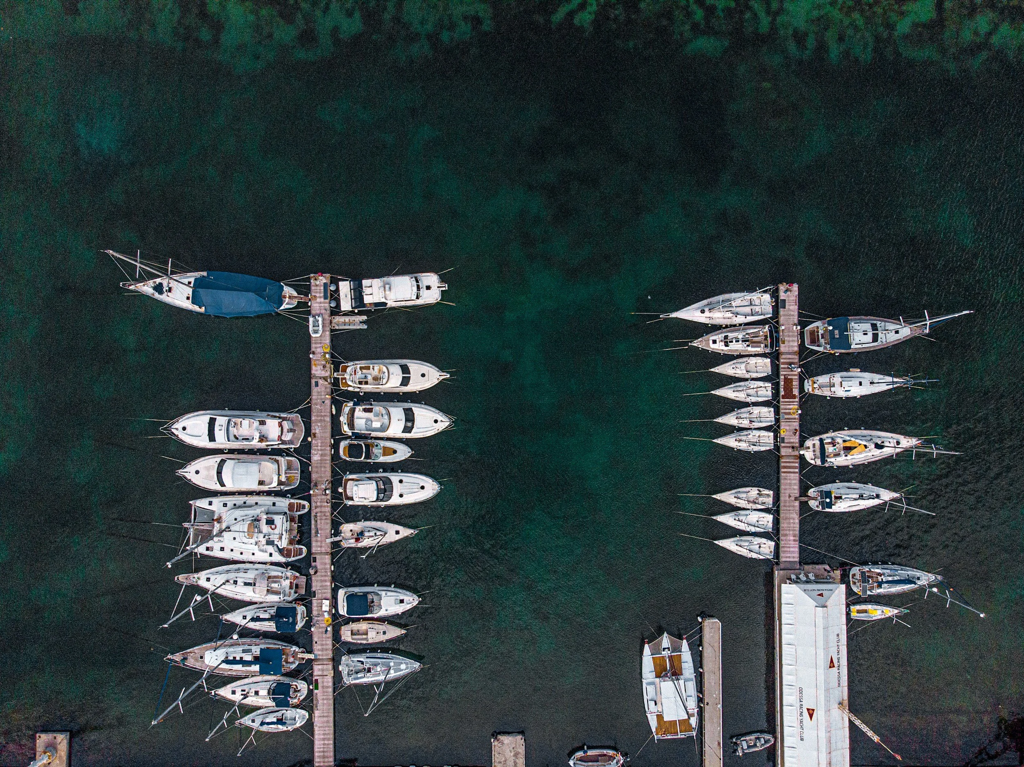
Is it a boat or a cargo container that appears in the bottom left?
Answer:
boat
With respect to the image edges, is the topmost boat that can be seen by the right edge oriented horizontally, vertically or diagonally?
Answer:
horizontally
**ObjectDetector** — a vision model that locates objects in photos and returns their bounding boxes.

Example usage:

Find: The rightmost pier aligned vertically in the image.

[778,285,799,560]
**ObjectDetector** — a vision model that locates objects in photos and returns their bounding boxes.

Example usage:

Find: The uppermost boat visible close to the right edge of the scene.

[800,310,974,353]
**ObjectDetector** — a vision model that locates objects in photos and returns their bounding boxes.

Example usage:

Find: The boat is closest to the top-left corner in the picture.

[98,250,301,318]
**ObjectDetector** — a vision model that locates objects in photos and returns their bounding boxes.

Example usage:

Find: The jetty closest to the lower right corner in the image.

[701,618,722,767]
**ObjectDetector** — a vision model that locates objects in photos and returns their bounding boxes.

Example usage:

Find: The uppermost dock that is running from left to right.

[331,316,368,329]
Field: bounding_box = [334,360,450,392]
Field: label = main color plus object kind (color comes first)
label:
white boat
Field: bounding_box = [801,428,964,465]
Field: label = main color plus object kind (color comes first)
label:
white boat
